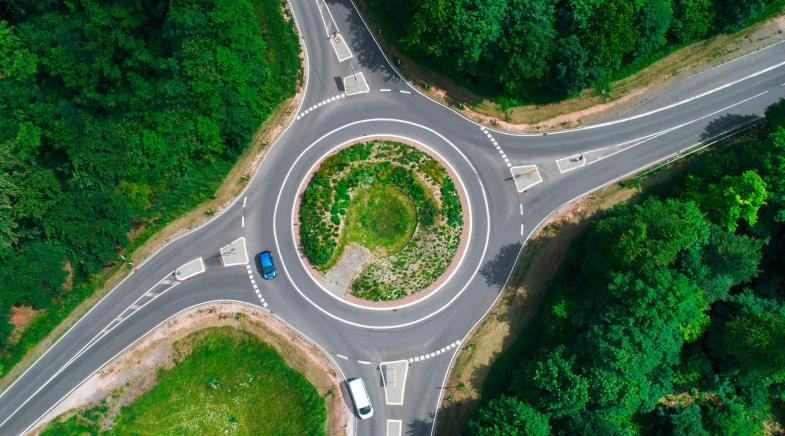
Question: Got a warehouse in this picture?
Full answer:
No, there's no warehouse here.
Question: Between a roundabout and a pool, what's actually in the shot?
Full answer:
Visible in the photo is a roundabout.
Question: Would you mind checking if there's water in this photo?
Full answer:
No, the picture contains no water.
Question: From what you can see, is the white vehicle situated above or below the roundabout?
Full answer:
You can see the white vehicle below the roundabout in the frame.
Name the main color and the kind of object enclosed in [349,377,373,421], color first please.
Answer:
white vehicle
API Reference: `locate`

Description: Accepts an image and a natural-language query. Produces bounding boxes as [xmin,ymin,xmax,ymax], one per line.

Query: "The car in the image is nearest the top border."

[259,249,276,279]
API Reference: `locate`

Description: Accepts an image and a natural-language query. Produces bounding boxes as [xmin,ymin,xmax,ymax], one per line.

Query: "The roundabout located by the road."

[242,58,521,362]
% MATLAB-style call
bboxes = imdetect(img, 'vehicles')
[259,249,276,279]
[349,377,373,421]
